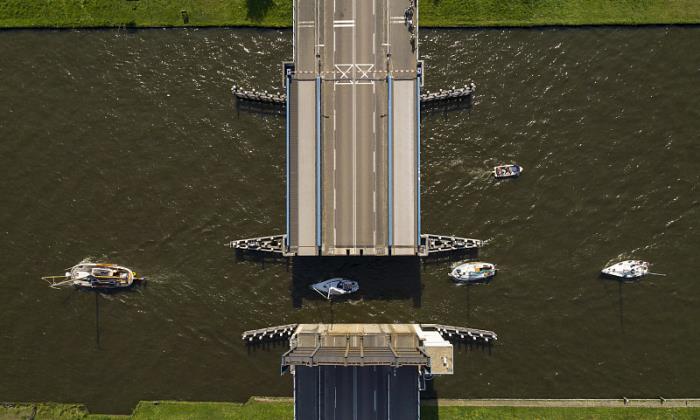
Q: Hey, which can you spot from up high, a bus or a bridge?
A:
bridge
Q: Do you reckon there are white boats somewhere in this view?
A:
Yes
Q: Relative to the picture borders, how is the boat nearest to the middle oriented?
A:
from left to right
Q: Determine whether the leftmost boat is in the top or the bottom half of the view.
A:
bottom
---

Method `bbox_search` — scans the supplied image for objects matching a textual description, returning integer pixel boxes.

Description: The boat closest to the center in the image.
[312,278,359,298]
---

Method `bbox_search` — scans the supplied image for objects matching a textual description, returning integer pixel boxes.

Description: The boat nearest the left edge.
[42,263,146,289]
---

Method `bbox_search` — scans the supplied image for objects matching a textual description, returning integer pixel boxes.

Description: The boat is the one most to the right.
[600,261,662,280]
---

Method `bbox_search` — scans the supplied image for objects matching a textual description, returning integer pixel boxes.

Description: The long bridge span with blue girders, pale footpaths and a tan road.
[283,0,430,256]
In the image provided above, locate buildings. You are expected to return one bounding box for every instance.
[420,329,454,389]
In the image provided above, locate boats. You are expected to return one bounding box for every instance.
[448,262,497,281]
[42,263,146,289]
[492,165,523,179]
[600,261,662,280]
[312,278,359,298]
